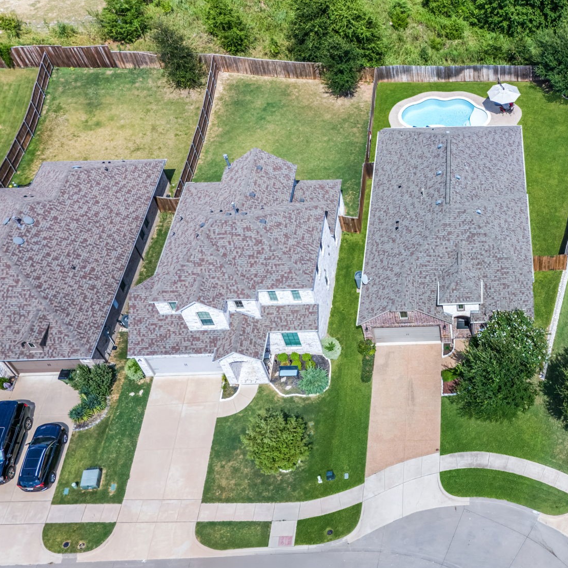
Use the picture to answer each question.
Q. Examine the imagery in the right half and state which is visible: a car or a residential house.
residential house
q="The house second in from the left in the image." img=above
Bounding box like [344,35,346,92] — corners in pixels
[125,144,342,382]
